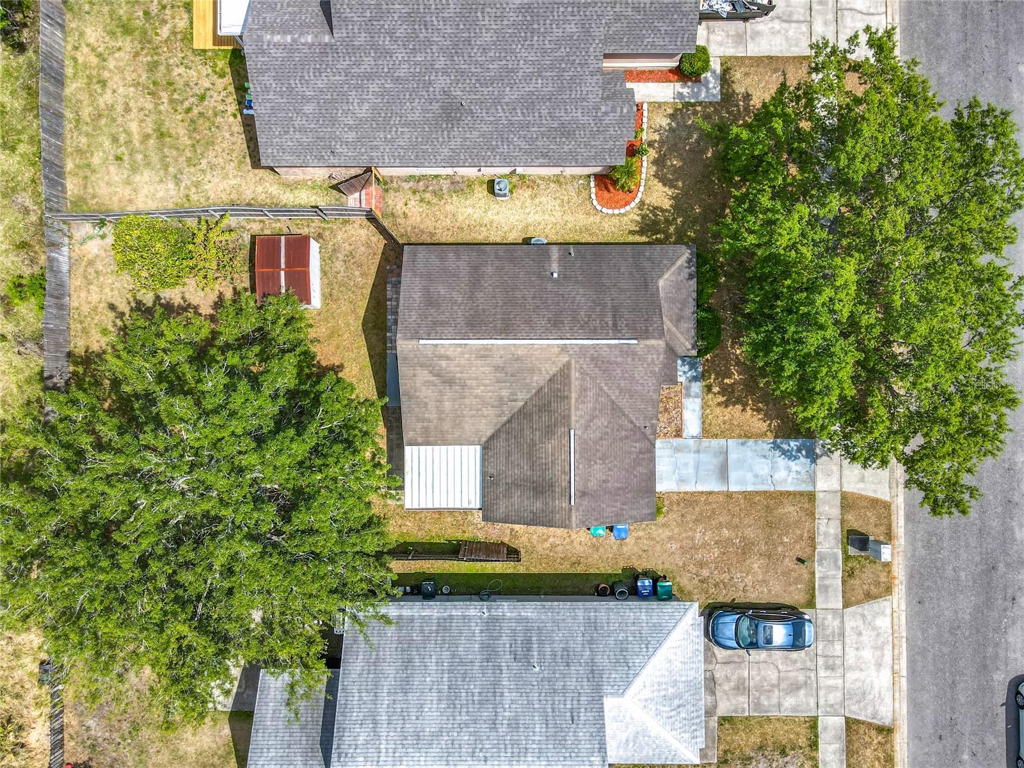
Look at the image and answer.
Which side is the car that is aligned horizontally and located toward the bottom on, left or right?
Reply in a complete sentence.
The car that is aligned horizontally and located toward the bottom is on the right side of the image.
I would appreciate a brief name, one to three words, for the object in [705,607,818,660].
car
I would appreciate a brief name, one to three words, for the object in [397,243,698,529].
house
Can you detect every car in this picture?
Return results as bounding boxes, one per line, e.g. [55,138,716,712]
[705,607,818,660]
[1015,682,1024,768]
